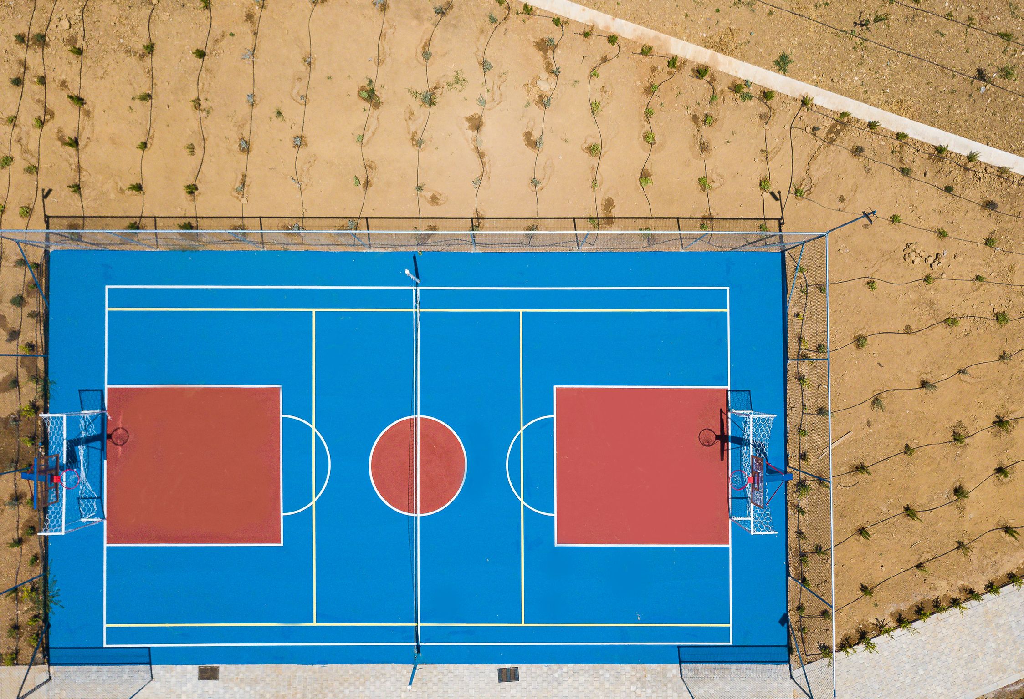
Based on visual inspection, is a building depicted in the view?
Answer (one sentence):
No, I can't see a single building in this photo.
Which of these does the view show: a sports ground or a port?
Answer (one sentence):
The area seen from above is a sports ground.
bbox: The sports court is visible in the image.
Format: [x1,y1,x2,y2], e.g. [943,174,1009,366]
[48,249,790,666]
